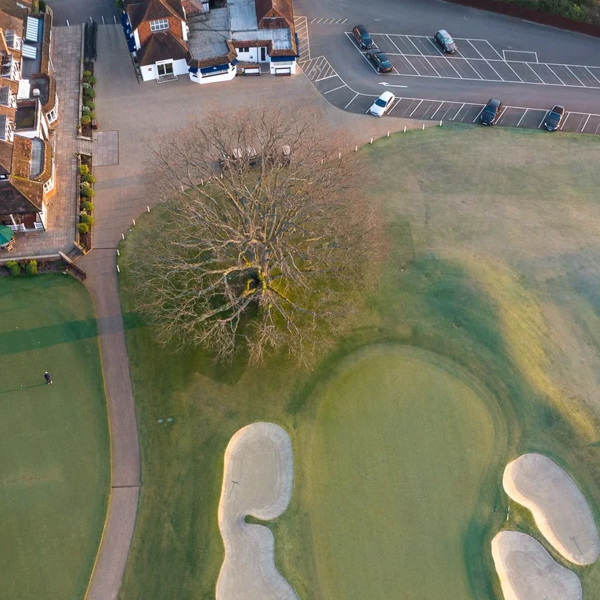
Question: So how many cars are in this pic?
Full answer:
Looking from above, you can make out 6 cars.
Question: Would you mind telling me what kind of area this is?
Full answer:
The picture captures a golf course.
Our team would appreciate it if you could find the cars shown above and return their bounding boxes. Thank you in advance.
[437,28,457,50]
[354,21,375,46]
[545,102,568,127]
[372,88,395,112]
[369,48,393,71]
[482,95,505,122]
